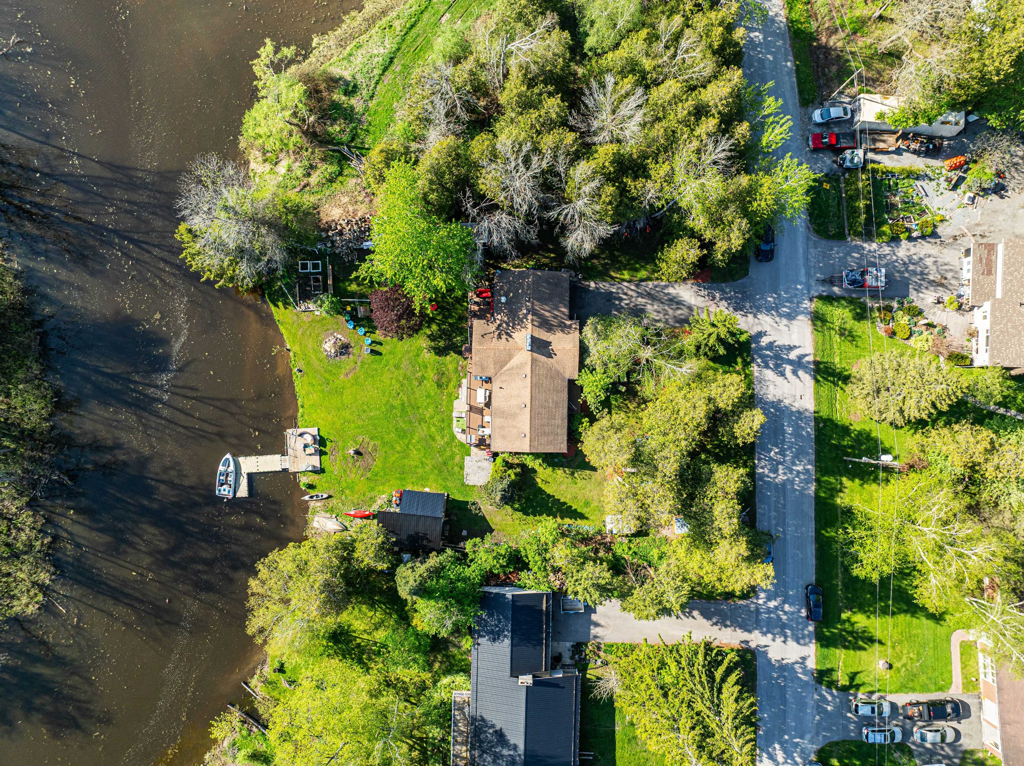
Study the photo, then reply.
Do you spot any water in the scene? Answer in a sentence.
Yes, water can be seen from above here.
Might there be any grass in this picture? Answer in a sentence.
Yes, there is grass in the image.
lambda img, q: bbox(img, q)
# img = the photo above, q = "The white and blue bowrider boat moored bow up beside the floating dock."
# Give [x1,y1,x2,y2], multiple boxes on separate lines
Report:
[216,454,236,500]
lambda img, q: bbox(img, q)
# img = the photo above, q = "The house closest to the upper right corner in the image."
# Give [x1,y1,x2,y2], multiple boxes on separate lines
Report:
[958,236,1024,369]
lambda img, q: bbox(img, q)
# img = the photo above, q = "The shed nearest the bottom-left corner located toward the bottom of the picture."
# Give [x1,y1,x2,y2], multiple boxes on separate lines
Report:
[377,486,449,550]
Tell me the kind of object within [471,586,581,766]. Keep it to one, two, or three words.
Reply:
house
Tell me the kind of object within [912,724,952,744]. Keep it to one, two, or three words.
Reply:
car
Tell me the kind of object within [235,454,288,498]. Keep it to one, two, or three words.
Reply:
pier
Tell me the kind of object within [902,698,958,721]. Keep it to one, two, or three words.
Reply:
truck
